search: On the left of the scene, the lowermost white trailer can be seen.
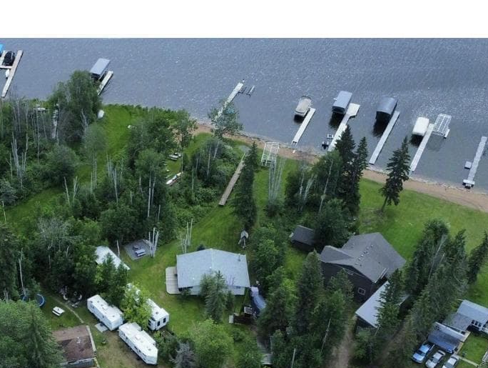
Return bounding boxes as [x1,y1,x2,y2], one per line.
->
[119,322,158,365]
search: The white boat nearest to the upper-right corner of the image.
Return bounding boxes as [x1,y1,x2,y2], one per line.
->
[413,116,428,133]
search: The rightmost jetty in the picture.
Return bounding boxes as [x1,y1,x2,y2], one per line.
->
[462,137,488,188]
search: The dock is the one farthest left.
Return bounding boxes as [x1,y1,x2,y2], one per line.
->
[0,50,25,98]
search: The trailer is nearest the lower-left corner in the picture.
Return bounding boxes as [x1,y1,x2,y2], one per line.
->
[88,297,123,332]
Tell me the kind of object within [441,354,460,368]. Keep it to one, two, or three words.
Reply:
car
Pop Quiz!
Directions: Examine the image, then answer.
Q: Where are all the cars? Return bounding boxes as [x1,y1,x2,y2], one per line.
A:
[426,348,447,368]
[413,339,435,361]
[441,354,460,368]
